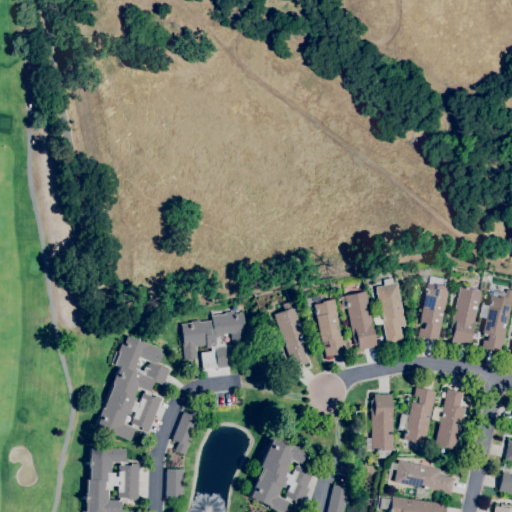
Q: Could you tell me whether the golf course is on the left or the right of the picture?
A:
left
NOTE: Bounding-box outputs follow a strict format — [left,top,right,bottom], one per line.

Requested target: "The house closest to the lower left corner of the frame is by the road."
[88,450,140,512]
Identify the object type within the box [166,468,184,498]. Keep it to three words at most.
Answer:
house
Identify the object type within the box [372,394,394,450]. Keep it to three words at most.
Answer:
house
